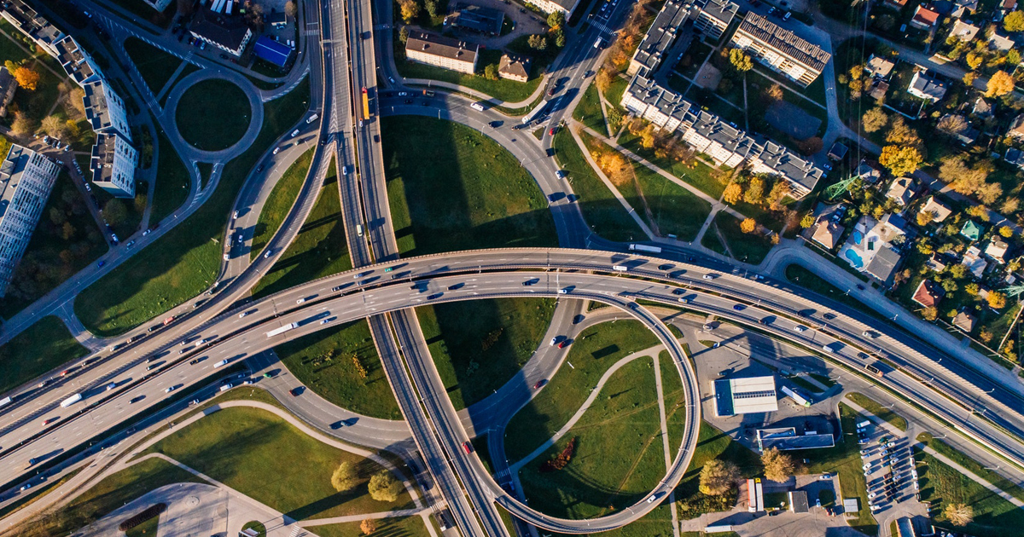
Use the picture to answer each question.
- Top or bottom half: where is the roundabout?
top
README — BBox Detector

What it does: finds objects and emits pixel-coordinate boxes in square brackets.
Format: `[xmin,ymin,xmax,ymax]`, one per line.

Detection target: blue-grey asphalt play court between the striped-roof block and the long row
[764,99,822,139]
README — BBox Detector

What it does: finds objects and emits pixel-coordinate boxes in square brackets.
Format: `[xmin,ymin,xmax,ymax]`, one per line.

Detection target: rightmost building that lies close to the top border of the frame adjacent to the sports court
[732,10,831,84]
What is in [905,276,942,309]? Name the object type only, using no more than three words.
house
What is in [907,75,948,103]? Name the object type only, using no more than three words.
house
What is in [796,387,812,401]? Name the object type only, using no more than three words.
vehicle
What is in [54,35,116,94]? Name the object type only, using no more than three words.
building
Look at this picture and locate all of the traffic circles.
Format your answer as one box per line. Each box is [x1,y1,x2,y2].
[164,69,261,160]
